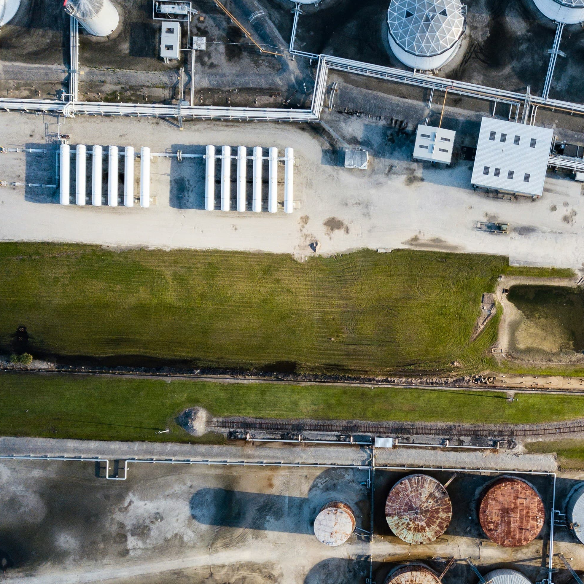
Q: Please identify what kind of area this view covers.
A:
industrial area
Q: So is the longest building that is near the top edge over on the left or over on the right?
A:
left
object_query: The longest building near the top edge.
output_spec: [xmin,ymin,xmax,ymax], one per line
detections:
[160,21,182,63]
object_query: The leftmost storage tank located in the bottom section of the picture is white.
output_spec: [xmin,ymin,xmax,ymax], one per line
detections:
[313,498,369,548]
